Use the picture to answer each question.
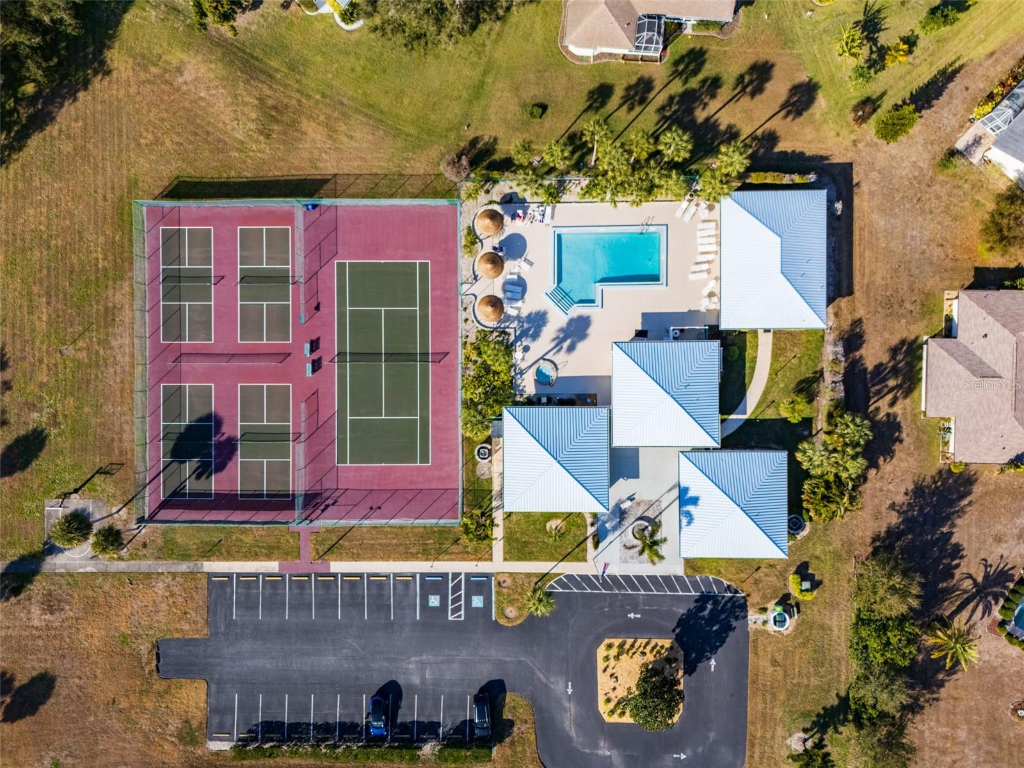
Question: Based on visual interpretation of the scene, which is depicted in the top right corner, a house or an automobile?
house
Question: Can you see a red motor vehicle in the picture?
No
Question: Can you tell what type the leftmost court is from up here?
basketball court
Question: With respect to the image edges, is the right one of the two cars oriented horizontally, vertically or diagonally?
vertically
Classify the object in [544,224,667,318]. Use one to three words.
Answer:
swimming pool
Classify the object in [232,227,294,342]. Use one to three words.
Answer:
sports court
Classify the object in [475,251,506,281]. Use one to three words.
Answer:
umbrella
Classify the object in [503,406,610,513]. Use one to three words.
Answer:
building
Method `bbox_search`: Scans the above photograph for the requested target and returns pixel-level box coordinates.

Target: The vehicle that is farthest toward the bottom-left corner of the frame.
[369,695,388,734]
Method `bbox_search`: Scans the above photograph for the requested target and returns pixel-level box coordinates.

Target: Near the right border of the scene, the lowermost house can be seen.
[923,290,1024,463]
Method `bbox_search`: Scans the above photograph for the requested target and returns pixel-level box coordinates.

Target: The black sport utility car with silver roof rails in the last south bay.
[474,693,494,736]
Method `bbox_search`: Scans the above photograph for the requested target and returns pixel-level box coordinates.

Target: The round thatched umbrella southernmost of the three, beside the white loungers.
[476,294,506,324]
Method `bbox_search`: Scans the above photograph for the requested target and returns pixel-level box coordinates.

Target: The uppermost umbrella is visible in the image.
[474,207,505,238]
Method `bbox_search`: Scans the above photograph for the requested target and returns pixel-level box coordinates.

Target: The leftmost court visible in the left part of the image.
[45,500,106,561]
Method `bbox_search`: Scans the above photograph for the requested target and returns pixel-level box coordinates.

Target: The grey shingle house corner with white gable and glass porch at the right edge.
[978,77,1024,186]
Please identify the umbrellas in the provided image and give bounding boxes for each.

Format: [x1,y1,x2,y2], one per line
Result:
[476,294,506,324]
[475,251,506,281]
[474,207,505,238]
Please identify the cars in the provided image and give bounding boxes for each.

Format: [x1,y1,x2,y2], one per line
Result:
[369,695,388,734]
[474,693,494,736]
